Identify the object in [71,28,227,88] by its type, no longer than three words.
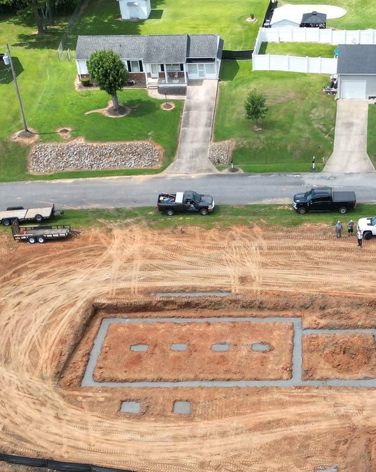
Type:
house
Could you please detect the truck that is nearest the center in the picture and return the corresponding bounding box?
[153,189,218,216]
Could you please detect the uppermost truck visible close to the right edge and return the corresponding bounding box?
[289,185,361,214]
